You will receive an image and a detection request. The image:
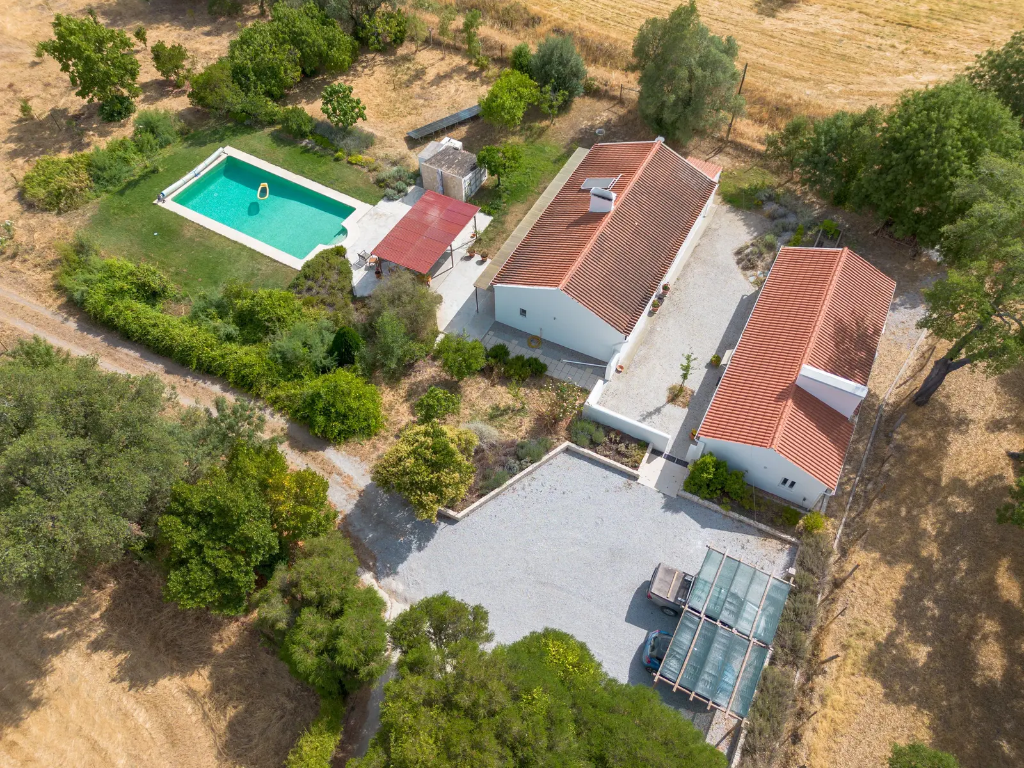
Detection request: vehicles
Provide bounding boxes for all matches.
[638,627,674,670]
[644,563,743,635]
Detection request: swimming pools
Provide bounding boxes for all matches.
[160,150,366,264]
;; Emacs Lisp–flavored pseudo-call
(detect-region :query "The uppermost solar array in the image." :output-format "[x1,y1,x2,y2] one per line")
[407,105,487,146]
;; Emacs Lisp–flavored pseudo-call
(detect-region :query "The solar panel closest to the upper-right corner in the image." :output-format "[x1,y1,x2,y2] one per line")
[580,170,631,192]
